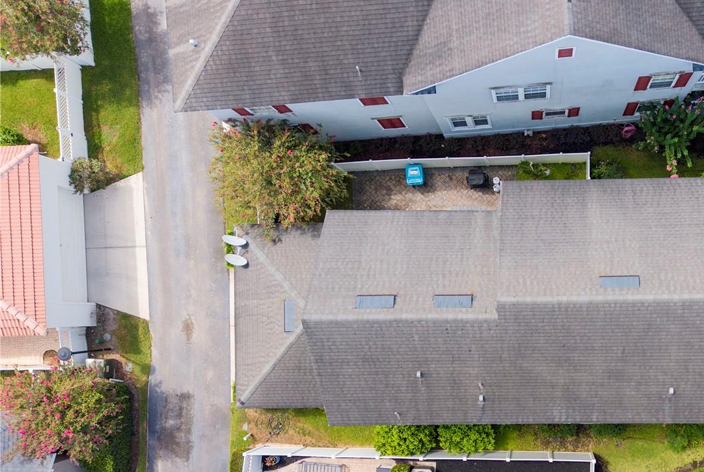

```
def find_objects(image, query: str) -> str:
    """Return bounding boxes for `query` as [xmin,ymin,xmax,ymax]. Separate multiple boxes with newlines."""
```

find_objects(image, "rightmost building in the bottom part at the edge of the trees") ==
[233,178,704,423]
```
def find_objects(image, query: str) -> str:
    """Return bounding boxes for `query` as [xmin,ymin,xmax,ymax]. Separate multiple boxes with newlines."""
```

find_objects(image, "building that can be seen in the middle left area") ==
[0,141,97,334]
